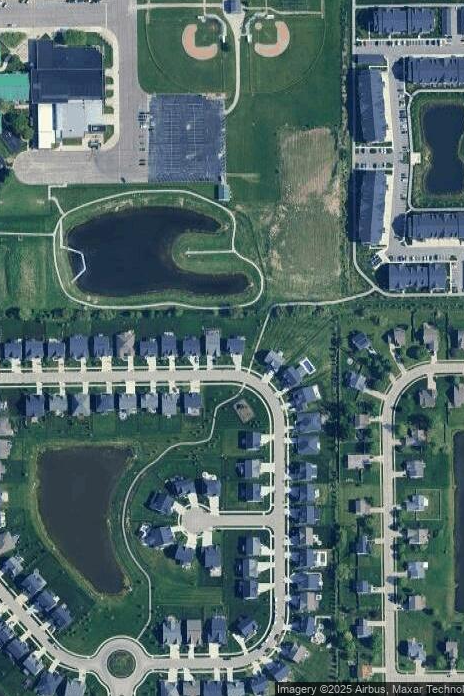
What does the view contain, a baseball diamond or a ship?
baseball diamond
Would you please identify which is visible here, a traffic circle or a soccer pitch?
traffic circle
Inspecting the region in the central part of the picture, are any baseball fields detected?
No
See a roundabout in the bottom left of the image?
Yes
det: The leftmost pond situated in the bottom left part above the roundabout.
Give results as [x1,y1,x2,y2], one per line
[39,446,132,595]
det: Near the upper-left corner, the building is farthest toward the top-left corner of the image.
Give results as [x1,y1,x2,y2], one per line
[0,39,105,149]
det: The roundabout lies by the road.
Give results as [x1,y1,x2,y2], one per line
[95,638,149,692]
